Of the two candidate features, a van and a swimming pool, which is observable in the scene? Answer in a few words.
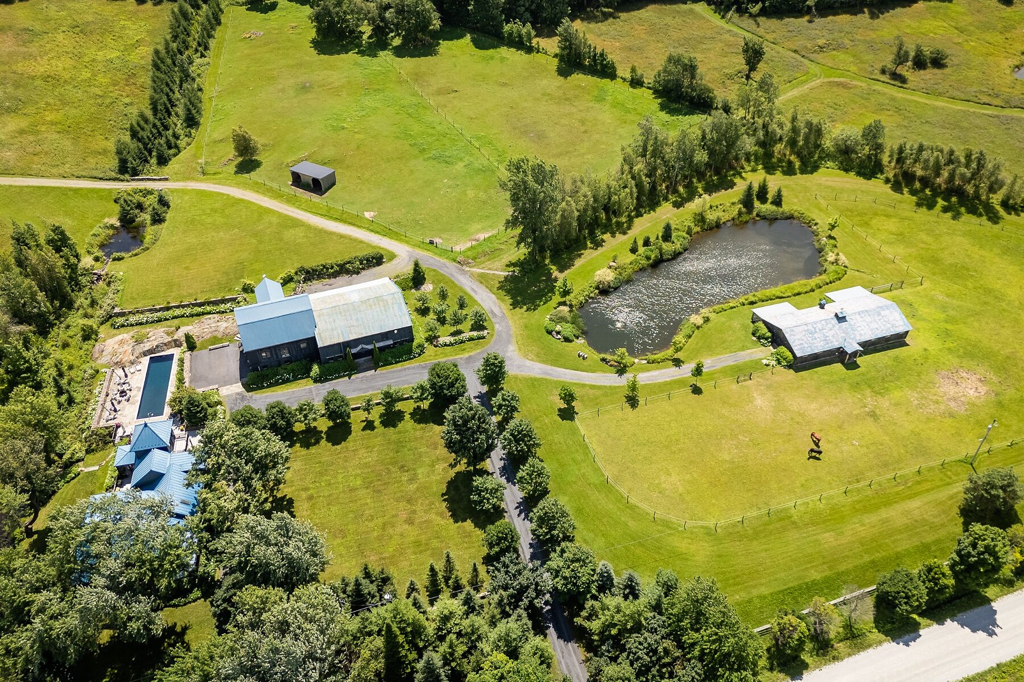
swimming pool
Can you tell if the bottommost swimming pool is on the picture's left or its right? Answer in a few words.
left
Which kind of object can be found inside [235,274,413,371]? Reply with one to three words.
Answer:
barn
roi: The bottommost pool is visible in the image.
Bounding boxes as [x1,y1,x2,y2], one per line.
[134,351,177,421]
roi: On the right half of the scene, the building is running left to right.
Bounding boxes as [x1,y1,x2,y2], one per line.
[751,286,913,367]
